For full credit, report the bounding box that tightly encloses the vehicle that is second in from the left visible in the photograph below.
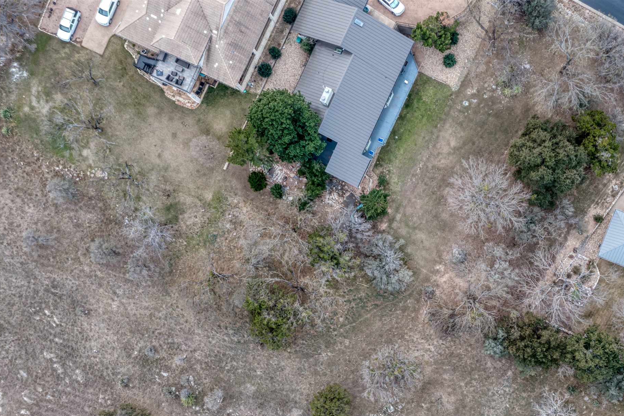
[97,0,120,29]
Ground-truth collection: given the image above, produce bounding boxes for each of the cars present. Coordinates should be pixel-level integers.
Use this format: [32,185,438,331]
[97,0,120,29]
[59,6,83,43]
[375,0,405,20]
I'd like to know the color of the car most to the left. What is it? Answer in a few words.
white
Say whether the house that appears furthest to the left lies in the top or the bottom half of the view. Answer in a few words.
top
